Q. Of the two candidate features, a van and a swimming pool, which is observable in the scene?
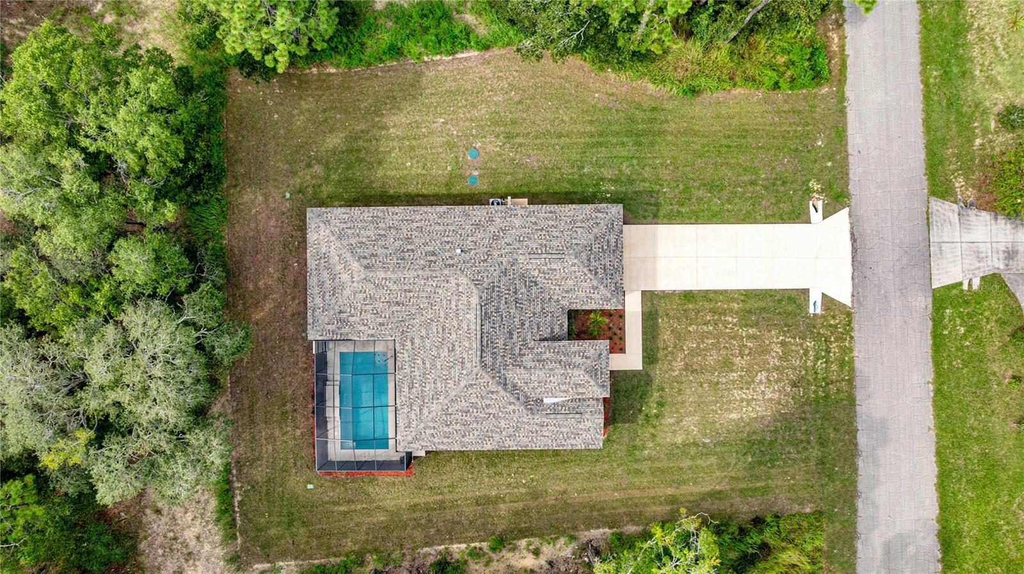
swimming pool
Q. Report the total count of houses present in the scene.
1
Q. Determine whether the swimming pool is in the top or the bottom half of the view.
bottom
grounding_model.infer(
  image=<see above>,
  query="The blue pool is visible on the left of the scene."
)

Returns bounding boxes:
[336,349,391,453]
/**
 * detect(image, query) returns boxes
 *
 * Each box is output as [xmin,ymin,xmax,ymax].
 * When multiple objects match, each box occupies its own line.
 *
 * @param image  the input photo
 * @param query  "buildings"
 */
[306,204,624,450]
